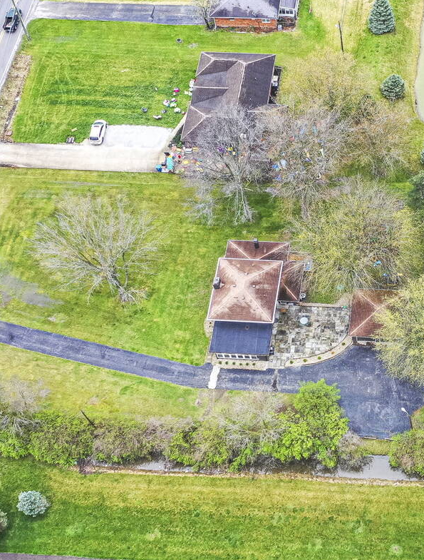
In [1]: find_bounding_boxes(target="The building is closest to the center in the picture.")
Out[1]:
[206,231,312,367]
